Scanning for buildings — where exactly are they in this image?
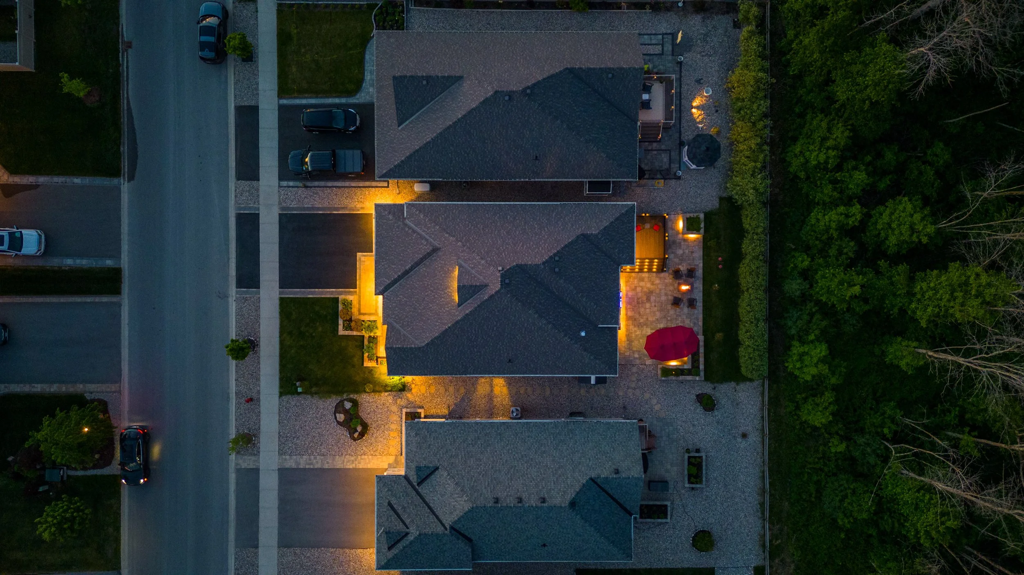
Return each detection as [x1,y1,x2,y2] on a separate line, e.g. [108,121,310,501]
[373,29,645,182]
[0,0,34,73]
[373,202,637,384]
[374,419,645,572]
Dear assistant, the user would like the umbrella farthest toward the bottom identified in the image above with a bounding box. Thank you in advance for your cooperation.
[644,326,699,362]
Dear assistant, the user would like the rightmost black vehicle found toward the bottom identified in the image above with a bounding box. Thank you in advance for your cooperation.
[117,426,150,487]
